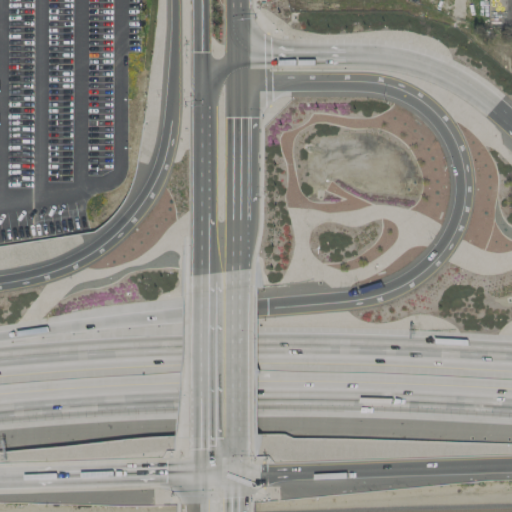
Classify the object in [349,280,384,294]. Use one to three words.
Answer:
vehicle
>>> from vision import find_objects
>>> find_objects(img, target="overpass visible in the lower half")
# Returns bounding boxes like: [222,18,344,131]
[176,266,258,454]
